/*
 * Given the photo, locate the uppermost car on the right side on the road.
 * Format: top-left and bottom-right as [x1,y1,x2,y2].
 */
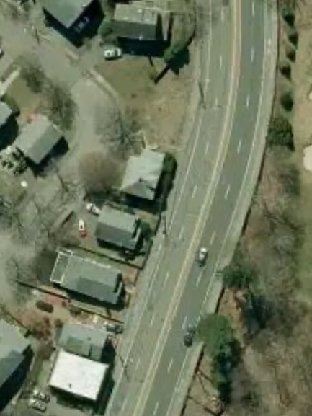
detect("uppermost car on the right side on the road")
[196,246,208,266]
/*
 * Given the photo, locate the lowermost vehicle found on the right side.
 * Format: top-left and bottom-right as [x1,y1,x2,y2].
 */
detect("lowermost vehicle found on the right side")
[184,326,196,345]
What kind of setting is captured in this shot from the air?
residential area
